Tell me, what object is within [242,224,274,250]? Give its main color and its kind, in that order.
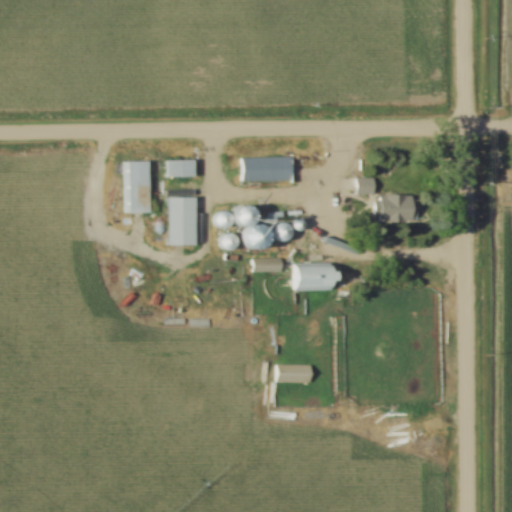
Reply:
white silo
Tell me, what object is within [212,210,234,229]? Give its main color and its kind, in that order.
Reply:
white silo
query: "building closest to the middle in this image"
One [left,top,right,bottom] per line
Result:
[250,258,284,273]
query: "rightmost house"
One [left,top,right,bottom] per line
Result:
[376,192,416,224]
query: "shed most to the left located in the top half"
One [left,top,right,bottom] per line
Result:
[123,160,152,214]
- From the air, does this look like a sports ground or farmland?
farmland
